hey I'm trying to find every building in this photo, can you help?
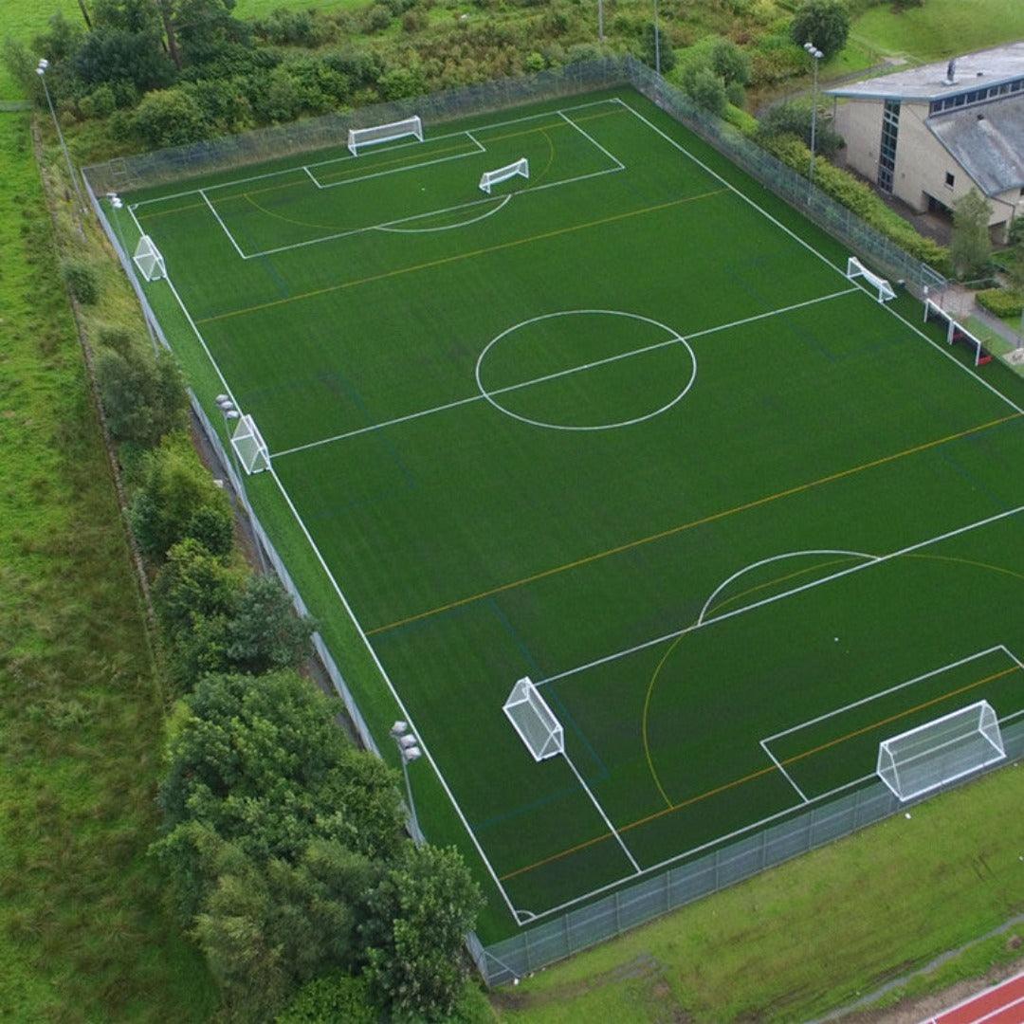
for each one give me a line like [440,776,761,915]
[818,50,1024,244]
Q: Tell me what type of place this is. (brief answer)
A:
sports ground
